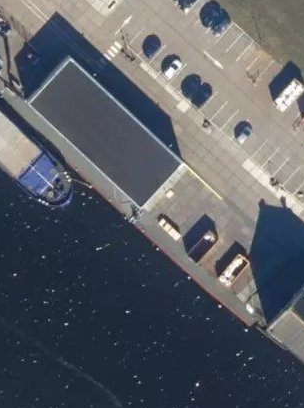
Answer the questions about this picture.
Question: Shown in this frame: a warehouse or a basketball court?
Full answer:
Looking from above, you can make out a warehouse.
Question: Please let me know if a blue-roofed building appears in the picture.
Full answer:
No, no blue-roofed building can be seen from above.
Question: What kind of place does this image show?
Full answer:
The area seen from above is a port.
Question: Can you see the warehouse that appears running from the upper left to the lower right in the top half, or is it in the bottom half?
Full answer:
Seen from above, the warehouse that appears running from the upper left to the lower right lies in the top half of the view.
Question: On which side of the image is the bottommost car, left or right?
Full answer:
The bottommost car sits on the right side.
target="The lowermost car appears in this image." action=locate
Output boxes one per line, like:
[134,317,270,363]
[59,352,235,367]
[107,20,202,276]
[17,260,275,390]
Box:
[234,123,255,145]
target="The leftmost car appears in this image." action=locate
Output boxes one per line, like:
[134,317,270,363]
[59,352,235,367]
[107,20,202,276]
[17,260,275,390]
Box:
[141,40,160,60]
